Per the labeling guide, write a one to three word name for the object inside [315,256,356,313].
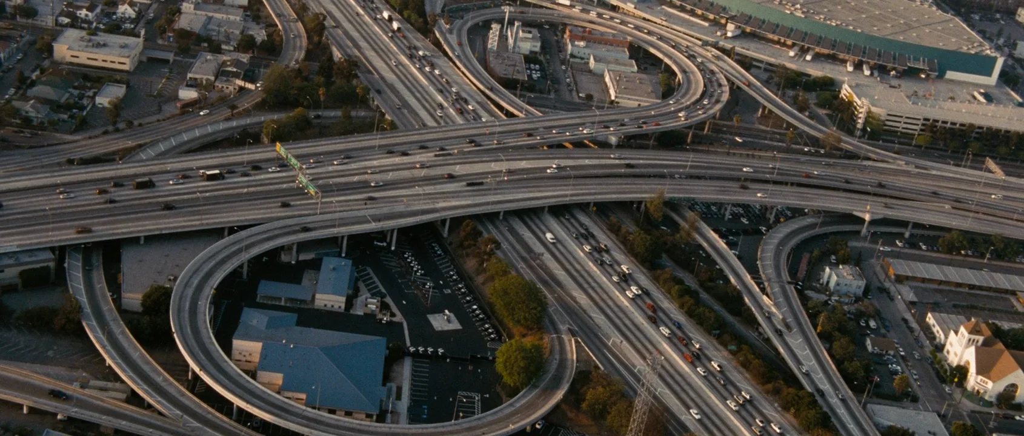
building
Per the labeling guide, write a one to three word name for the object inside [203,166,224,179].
vehicle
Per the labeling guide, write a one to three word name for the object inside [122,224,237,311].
building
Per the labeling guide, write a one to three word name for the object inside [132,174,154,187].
vehicle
